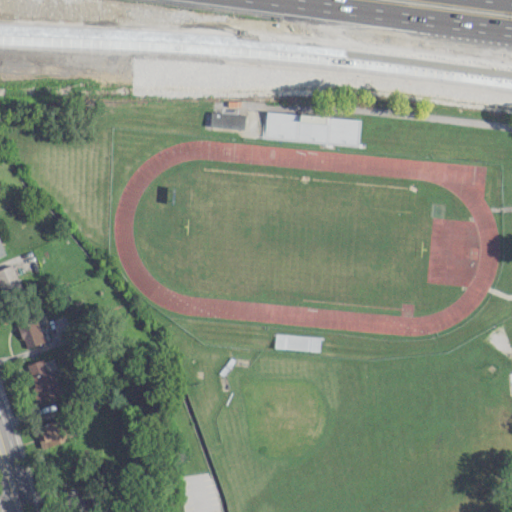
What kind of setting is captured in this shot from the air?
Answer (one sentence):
It's a sports ground.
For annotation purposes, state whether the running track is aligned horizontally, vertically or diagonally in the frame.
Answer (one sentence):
In this picture, the running track is oriented horizontally.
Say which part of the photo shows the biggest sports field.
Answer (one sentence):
The biggest sports field appears toward the center of the photo.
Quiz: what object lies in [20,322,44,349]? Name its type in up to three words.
house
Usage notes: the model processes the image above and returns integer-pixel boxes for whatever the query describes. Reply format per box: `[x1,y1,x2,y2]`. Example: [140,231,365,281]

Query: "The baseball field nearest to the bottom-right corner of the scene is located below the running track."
[245,376,327,457]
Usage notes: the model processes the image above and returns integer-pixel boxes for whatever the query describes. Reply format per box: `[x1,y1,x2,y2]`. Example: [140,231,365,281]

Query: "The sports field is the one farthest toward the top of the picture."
[133,160,476,316]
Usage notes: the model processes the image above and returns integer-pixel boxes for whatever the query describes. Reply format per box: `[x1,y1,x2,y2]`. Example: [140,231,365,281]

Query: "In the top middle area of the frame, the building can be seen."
[212,113,246,130]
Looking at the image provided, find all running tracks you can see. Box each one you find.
[114,142,498,335]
